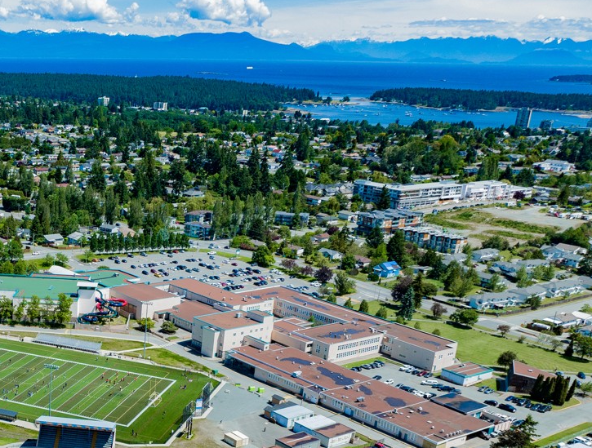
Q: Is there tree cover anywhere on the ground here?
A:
Yes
